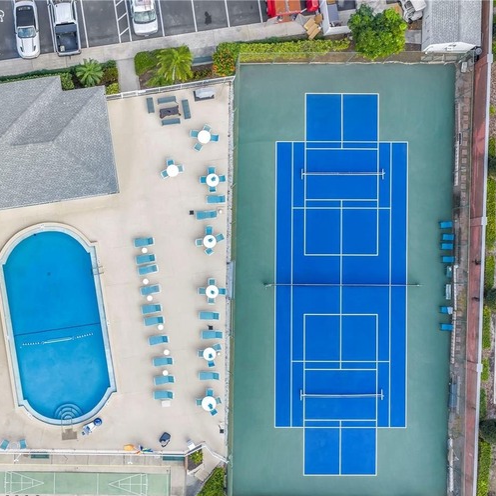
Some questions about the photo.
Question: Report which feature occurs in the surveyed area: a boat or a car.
car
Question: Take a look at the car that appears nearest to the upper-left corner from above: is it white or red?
white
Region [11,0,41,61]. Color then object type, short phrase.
white car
